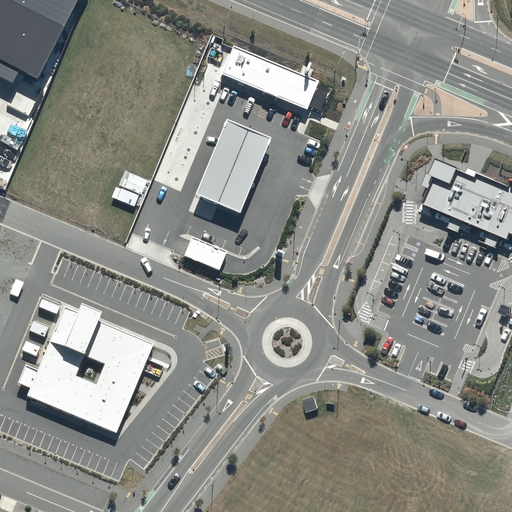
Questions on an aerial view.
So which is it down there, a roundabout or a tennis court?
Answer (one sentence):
This aerial view contains a roundabout.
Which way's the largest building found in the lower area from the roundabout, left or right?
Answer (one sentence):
The largest building found in the lower area is to the left of the roundabout.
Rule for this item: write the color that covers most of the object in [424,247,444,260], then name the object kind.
white vehicle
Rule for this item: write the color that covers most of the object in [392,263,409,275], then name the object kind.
white vehicle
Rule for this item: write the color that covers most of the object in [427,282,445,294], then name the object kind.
gray vehicle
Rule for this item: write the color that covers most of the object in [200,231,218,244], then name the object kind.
gray vehicle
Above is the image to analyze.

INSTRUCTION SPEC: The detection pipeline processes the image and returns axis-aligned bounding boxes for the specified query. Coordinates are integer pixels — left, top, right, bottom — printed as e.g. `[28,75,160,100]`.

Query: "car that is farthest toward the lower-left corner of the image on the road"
[168,474,180,490]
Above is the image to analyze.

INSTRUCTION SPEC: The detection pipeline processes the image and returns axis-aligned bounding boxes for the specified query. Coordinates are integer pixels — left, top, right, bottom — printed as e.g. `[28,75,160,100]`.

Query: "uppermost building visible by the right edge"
[422,160,512,250]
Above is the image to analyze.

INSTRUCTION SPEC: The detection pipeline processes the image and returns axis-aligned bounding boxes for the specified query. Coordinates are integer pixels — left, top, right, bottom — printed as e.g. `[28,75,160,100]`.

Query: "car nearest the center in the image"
[234,229,248,244]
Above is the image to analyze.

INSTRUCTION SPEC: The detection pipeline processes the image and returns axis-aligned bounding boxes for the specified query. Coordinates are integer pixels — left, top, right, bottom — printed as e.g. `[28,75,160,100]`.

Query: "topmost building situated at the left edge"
[0,0,80,85]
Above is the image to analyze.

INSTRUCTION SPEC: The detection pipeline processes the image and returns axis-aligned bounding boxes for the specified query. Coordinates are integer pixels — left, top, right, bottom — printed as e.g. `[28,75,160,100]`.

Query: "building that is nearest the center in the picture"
[185,238,227,272]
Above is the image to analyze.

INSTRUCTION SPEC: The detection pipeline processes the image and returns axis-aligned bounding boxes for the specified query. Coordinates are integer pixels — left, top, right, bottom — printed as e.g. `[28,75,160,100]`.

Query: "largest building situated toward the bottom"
[28,304,153,434]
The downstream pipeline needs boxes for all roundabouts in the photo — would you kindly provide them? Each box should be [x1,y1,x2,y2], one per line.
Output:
[244,298,332,386]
